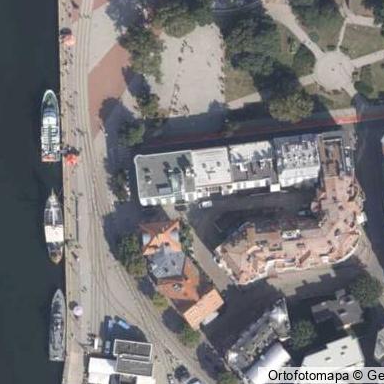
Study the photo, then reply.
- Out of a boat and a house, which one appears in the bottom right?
house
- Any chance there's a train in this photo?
No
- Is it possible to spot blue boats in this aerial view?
No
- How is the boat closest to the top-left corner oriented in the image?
vertically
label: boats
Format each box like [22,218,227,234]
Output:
[45,184,67,265]
[50,288,70,361]
[41,90,64,163]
